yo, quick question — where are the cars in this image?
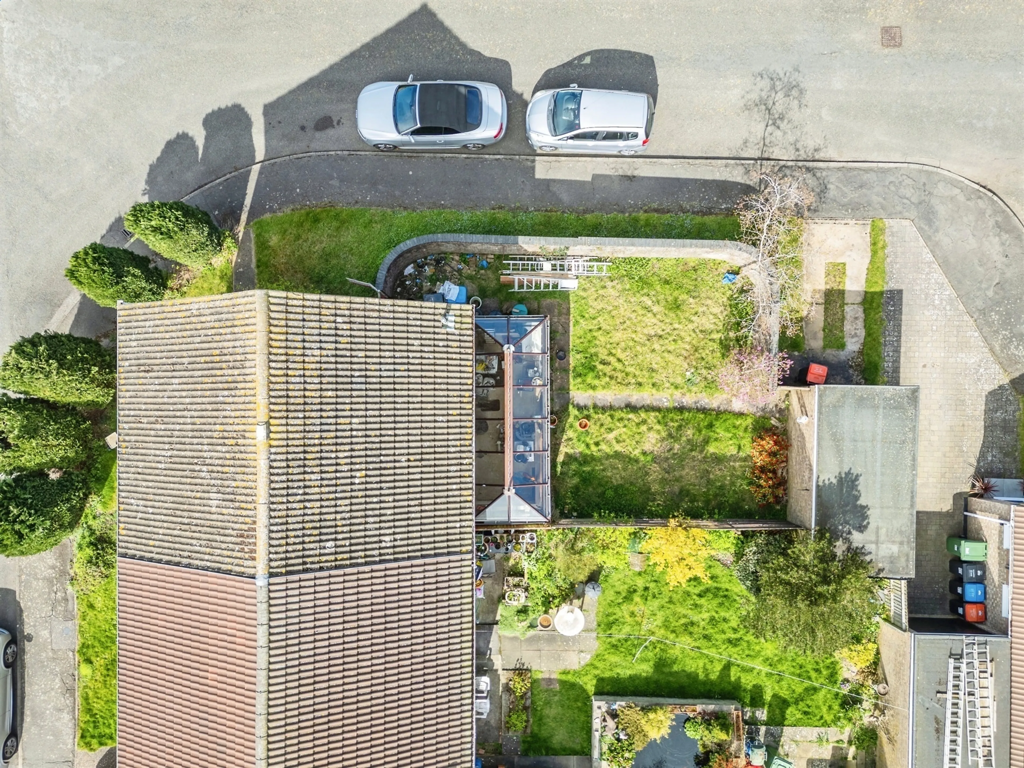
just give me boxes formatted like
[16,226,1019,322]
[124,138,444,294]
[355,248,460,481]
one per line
[353,73,504,150]
[0,630,16,768]
[527,77,655,154]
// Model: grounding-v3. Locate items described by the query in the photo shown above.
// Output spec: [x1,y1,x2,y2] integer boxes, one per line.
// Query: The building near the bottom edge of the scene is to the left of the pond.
[113,550,478,768]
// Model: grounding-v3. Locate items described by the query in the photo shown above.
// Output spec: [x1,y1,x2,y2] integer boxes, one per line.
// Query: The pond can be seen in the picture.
[592,696,745,768]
